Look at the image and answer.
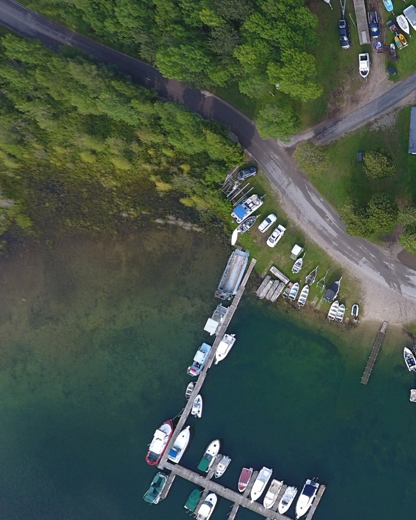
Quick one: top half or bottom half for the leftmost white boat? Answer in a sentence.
The bottom half of the photo is where the leftmost white boat is.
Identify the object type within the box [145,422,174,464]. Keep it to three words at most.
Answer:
boat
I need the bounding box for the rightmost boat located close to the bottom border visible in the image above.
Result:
[297,476,322,519]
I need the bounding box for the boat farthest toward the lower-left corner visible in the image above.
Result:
[142,471,169,504]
